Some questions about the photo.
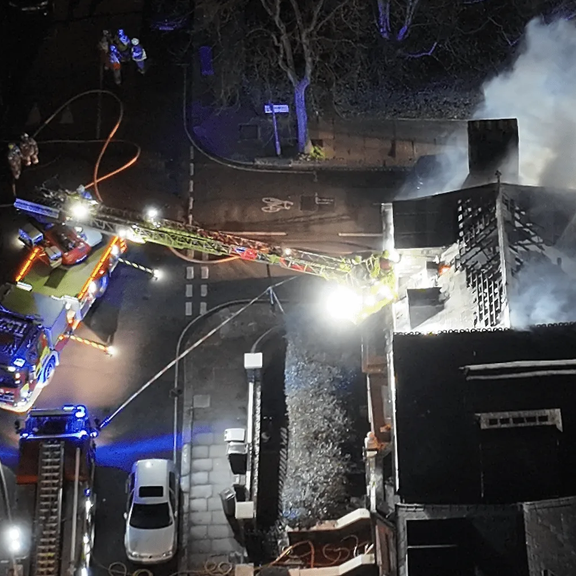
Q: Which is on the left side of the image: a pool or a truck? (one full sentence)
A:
Visible on the left side of the image is a truck.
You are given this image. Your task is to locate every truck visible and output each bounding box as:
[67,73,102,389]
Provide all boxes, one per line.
[8,401,114,576]
[0,175,406,404]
